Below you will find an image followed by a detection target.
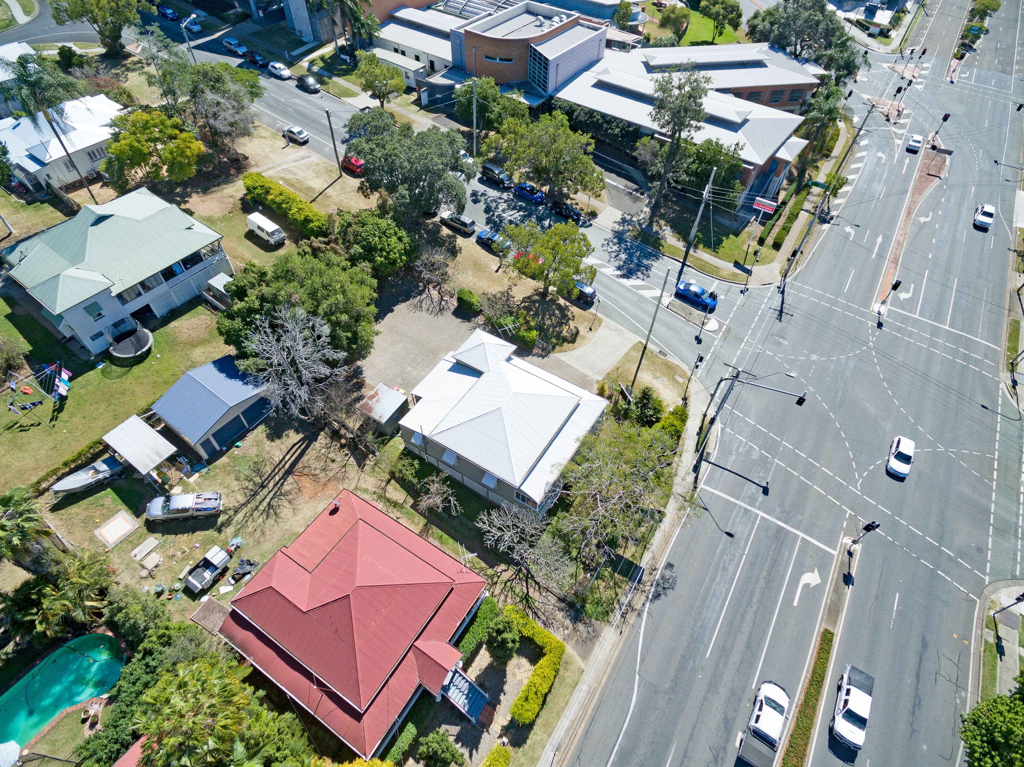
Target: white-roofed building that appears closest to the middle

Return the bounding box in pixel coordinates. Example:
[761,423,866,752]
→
[398,292,610,515]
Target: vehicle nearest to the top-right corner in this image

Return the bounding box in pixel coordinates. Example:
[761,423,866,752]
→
[907,137,923,150]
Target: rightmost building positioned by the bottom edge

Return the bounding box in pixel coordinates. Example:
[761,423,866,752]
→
[217,488,496,760]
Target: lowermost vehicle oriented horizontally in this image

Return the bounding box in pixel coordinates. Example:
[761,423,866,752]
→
[146,491,223,524]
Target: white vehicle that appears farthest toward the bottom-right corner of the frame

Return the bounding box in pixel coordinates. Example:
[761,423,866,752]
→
[829,661,878,754]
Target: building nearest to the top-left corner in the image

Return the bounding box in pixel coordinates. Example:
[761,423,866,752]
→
[0,34,37,82]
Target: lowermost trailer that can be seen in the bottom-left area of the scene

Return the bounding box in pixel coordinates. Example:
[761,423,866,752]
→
[180,540,238,597]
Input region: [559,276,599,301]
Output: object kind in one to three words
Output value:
car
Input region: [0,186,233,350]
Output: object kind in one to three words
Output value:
building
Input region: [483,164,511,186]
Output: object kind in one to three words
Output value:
car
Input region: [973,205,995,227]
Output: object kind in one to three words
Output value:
truck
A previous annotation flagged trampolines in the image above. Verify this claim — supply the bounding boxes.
[100,322,158,368]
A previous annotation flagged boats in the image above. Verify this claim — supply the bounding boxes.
[44,455,121,496]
